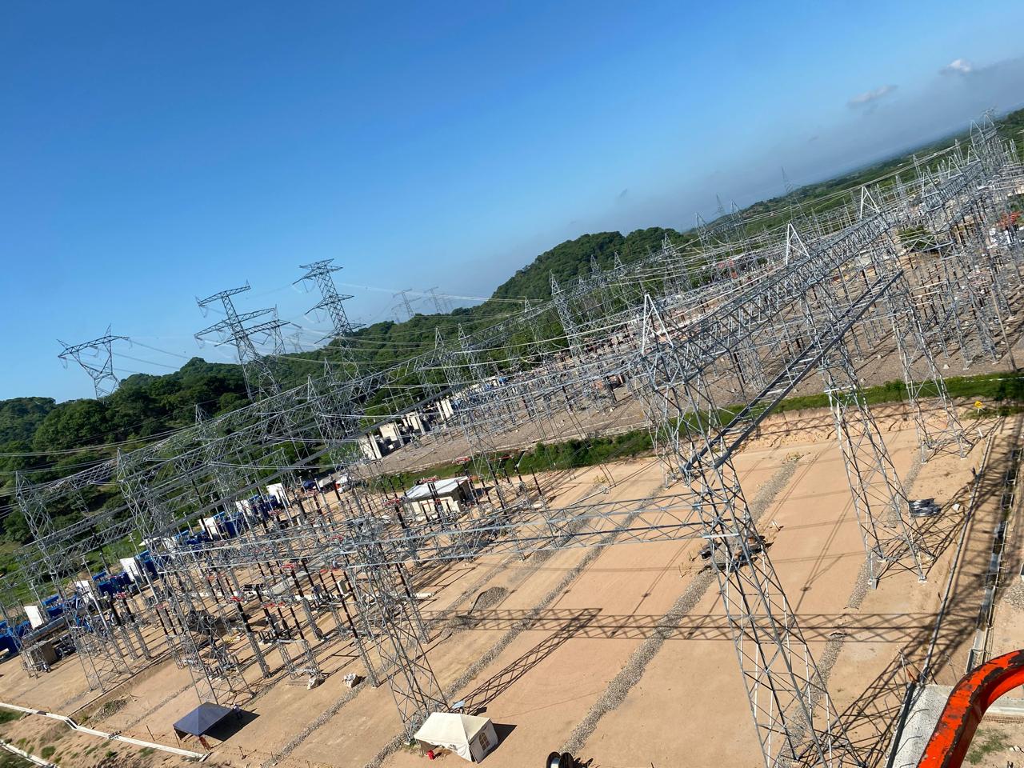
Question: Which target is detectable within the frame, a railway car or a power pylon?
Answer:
power pylon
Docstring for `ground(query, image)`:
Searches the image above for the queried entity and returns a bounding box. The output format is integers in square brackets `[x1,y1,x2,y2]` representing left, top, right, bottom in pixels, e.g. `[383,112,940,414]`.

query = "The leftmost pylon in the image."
[55,317,135,404]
